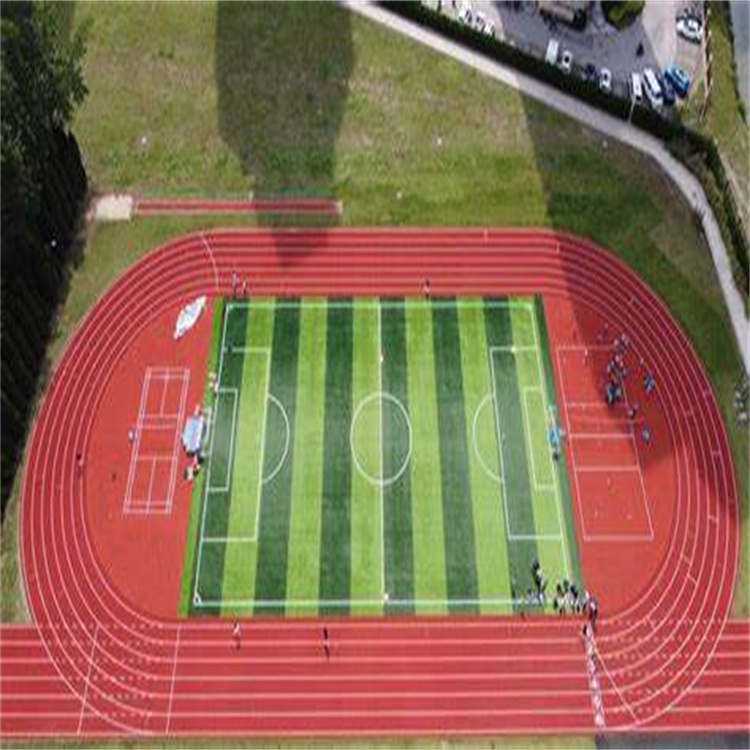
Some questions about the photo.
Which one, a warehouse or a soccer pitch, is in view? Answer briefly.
soccer pitch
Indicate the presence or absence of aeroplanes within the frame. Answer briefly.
No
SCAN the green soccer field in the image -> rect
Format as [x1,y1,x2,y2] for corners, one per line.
[176,295,584,615]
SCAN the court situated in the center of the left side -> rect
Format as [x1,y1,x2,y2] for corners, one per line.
[122,366,191,515]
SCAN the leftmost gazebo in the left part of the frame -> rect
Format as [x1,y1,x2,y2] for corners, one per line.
[179,415,207,457]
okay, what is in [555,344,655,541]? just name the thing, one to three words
sports court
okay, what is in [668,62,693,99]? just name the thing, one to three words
vehicle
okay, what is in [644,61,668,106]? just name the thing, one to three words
bus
